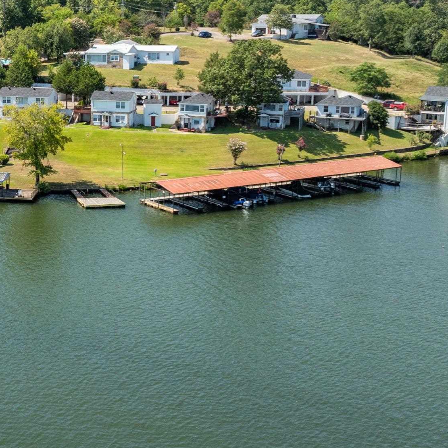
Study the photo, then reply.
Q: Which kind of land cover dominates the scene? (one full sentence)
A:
The scene is dominated by water.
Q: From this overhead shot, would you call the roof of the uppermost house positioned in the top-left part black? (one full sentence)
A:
No, the color of the roof of the uppermost house positioned in the top-left part is white.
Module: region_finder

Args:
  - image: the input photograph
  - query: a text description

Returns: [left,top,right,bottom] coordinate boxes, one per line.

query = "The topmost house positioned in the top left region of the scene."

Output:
[60,43,180,70]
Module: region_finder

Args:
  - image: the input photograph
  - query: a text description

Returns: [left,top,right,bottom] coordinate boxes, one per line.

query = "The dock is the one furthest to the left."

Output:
[67,187,125,209]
